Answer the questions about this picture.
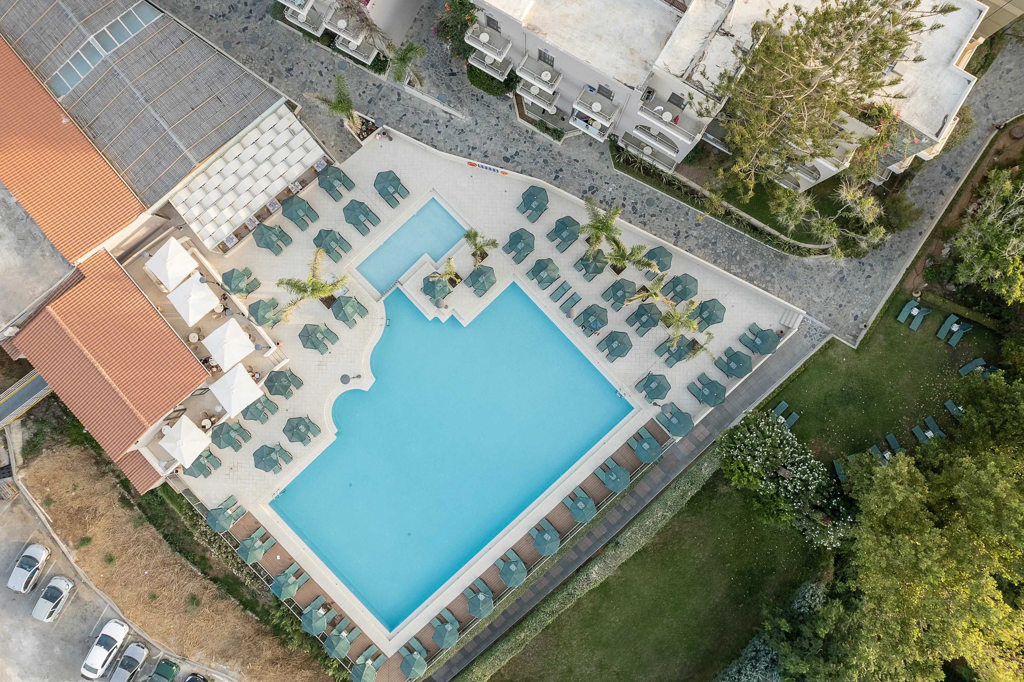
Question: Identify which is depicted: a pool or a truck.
pool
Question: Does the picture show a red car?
No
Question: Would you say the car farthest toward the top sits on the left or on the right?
left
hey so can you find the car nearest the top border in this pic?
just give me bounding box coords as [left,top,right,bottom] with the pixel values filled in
[4,542,52,600]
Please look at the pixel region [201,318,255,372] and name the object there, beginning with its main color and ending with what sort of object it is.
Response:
white umbrella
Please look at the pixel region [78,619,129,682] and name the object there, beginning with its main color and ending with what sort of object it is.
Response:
white car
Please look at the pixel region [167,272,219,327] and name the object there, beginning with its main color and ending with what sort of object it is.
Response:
white umbrella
